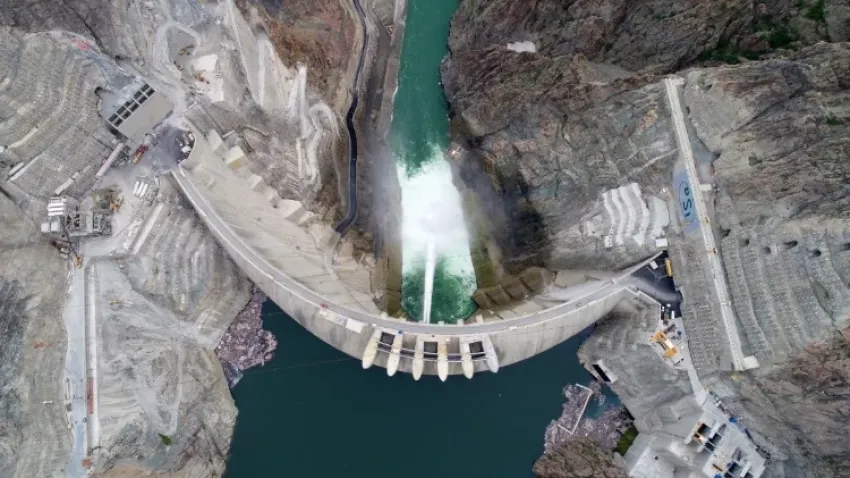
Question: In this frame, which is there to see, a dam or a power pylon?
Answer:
dam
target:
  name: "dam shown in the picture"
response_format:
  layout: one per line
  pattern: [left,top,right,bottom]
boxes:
[171,120,664,382]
